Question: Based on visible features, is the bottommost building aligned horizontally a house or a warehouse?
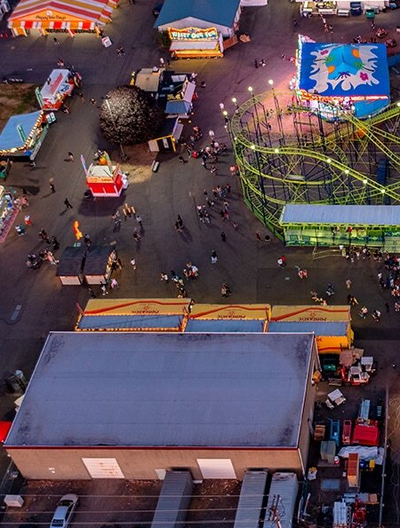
warehouse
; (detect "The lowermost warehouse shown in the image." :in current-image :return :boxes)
[2,331,320,475]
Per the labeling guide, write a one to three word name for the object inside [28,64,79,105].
trailer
